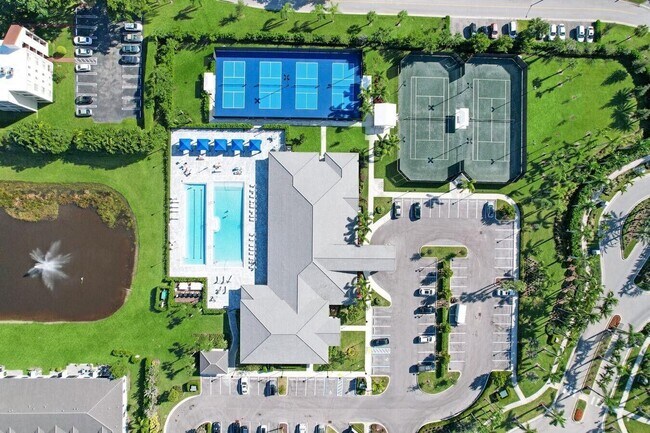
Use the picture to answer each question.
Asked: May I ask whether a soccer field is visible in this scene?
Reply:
No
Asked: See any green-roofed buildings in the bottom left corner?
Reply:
No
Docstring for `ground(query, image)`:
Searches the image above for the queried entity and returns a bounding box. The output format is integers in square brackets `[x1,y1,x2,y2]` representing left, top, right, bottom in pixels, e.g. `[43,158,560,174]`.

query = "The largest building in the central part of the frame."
[241,152,397,364]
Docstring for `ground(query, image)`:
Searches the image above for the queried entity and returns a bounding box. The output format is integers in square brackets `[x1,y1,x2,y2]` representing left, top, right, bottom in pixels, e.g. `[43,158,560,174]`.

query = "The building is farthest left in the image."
[0,23,53,111]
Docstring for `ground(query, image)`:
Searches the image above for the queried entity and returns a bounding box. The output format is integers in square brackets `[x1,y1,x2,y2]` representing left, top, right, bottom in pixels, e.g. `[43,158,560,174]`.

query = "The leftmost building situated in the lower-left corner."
[0,364,129,433]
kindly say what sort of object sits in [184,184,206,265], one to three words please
swimming pool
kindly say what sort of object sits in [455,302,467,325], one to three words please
vehicle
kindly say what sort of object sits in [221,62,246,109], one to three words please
sports court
